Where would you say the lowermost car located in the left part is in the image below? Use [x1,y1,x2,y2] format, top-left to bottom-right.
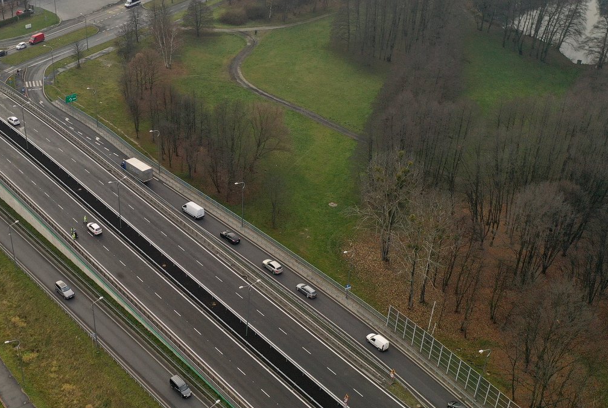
[167,374,192,397]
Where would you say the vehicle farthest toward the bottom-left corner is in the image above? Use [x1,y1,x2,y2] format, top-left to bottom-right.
[54,279,74,298]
